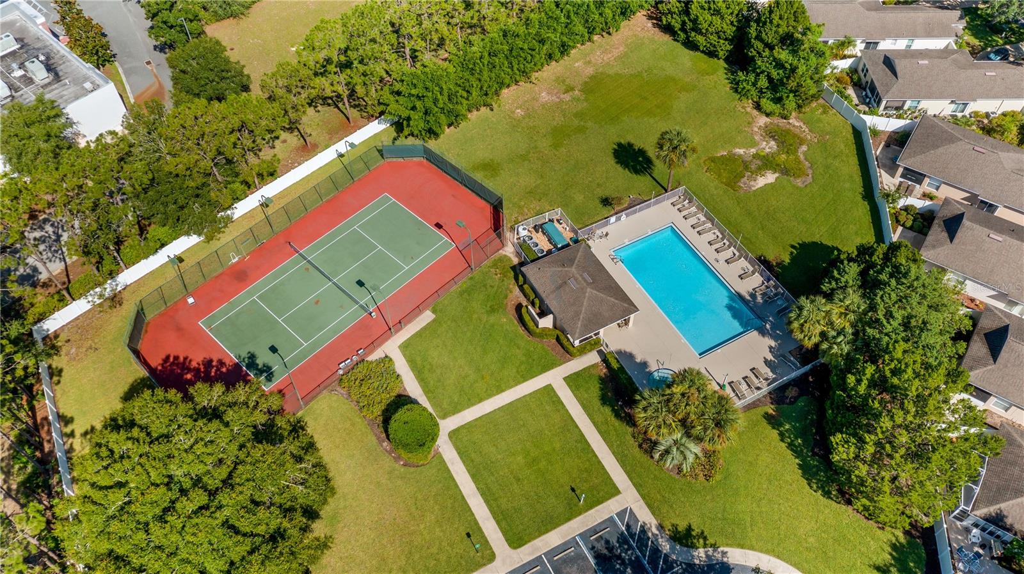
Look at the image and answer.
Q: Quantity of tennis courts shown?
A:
1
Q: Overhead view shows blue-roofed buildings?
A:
No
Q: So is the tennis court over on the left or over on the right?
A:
left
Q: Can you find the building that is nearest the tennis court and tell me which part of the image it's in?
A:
center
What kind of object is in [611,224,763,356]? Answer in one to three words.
swimming pool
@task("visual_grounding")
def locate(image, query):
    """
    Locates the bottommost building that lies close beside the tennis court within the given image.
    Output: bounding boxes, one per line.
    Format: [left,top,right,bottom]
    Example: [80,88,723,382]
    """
[521,241,640,347]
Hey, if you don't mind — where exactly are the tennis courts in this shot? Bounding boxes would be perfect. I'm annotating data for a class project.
[133,158,507,443]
